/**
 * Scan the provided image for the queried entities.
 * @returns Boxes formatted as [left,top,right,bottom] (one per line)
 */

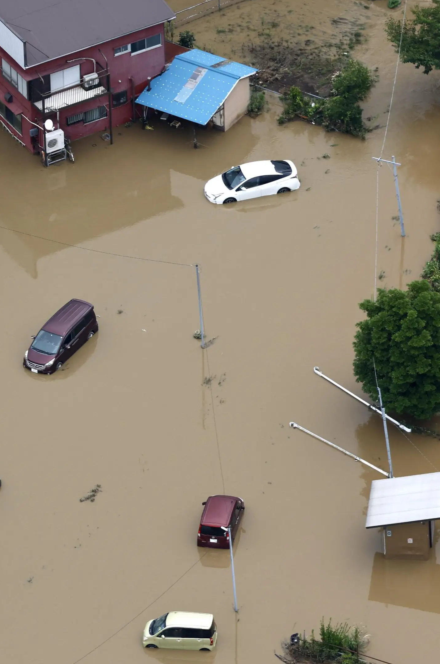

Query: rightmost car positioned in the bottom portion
[198,497,241,551]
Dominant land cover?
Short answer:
water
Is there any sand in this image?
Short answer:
No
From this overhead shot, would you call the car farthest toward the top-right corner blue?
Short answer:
No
